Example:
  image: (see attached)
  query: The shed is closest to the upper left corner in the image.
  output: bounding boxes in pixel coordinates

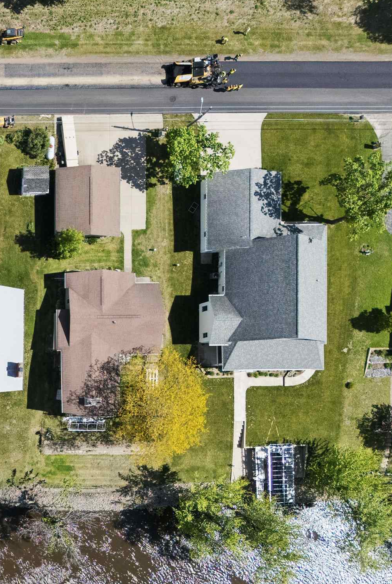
[19,165,50,198]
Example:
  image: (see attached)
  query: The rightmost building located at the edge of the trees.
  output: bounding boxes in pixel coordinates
[198,167,328,371]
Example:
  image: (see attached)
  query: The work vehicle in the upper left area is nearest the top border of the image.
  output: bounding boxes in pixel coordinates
[0,26,22,48]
